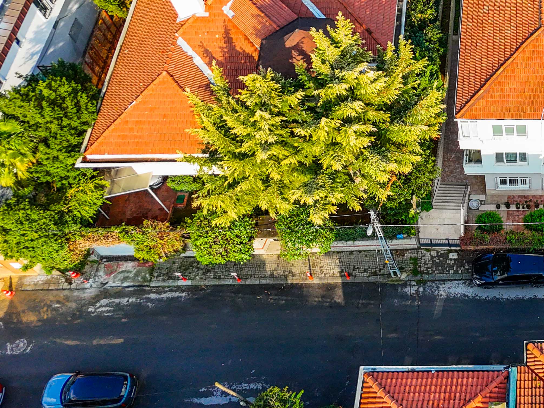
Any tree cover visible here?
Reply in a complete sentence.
Yes, there is tree cover in the image.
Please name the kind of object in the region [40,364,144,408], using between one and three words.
car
